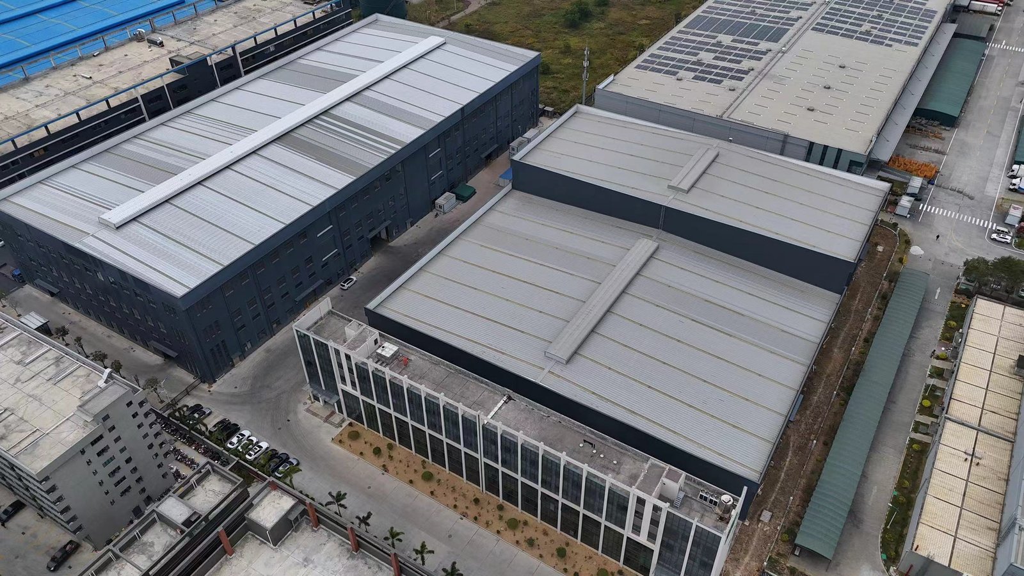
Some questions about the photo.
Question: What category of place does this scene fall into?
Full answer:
This looks like an industrial area.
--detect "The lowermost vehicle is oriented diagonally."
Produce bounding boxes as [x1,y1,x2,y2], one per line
[41,539,77,571]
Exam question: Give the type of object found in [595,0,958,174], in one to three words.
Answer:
warehouse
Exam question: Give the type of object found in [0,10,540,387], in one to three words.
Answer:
building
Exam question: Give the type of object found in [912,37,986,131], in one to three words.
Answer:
shed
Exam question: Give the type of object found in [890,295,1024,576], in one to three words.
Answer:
building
